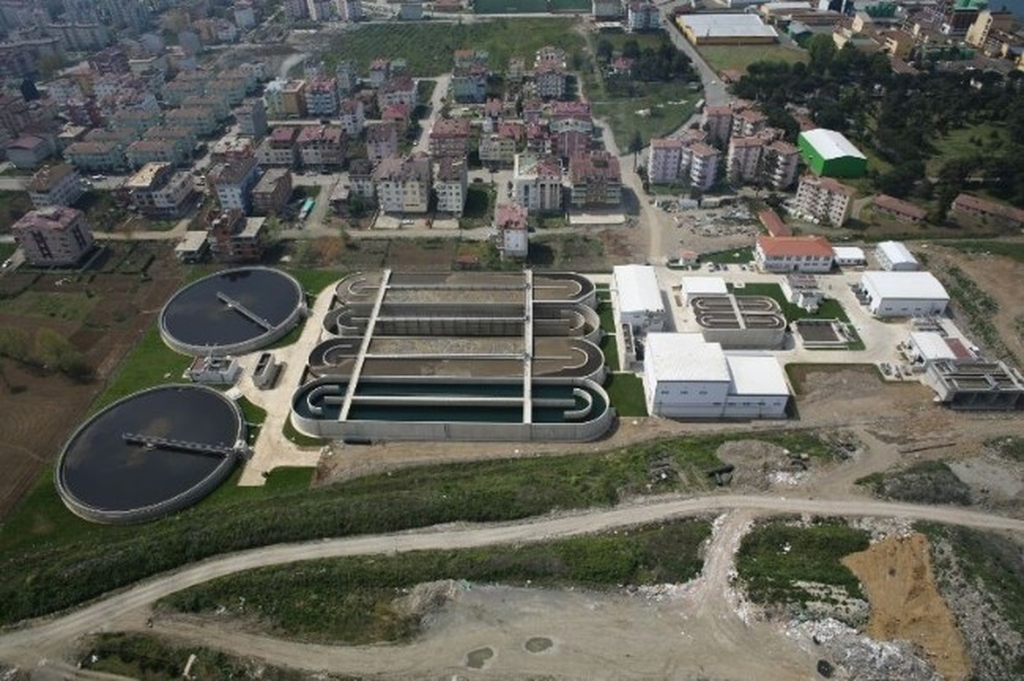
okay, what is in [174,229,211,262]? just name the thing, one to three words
house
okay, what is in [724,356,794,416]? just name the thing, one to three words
building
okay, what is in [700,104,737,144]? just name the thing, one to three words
building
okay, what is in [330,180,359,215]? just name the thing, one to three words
house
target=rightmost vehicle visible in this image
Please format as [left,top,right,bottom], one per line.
[965,336,990,355]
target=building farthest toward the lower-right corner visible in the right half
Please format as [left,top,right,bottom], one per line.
[905,327,961,369]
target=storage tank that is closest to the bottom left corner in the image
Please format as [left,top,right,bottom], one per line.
[56,382,262,529]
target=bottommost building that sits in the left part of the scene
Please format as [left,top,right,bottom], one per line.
[186,342,240,382]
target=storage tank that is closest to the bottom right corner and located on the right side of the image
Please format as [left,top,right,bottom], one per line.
[925,358,1024,410]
